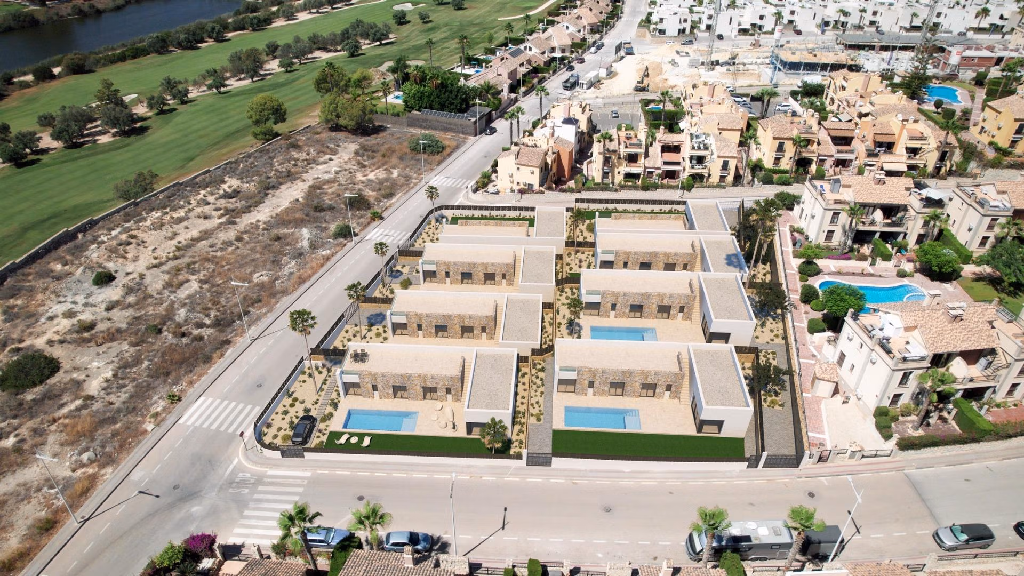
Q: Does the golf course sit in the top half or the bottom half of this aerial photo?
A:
top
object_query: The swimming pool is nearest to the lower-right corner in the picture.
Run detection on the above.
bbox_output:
[816,279,930,308]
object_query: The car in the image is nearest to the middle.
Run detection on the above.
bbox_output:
[481,121,498,134]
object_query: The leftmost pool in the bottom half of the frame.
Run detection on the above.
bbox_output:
[341,409,420,432]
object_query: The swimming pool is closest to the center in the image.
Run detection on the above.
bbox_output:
[589,327,661,342]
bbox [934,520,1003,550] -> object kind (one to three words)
car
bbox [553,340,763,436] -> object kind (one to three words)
house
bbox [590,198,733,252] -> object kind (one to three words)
house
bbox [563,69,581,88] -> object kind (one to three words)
vehicle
